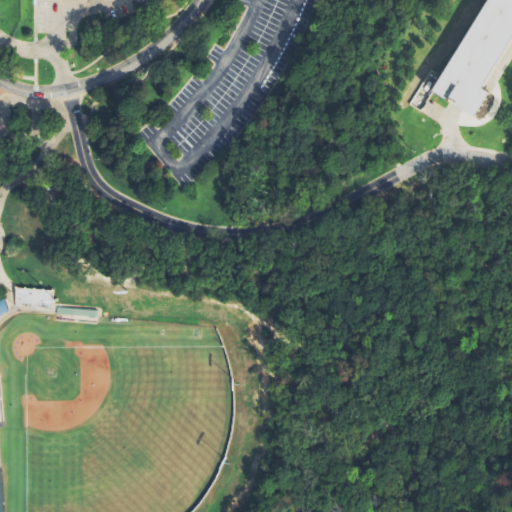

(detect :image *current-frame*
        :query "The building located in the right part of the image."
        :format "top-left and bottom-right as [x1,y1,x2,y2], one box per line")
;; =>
[431,0,512,117]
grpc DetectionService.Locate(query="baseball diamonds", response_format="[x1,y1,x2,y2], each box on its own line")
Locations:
[12,330,233,512]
